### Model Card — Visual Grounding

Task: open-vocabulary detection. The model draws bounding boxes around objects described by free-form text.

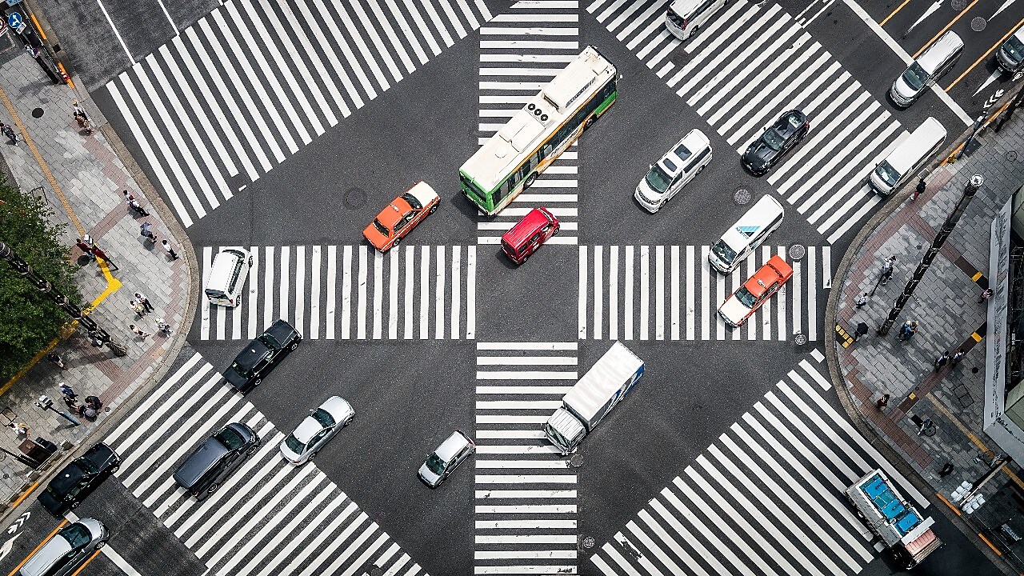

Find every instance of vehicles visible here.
[667,0,732,39]
[635,130,711,213]
[38,442,123,518]
[741,109,810,177]
[222,318,302,395]
[708,195,783,277]
[537,339,644,458]
[994,21,1024,73]
[25,517,109,576]
[890,31,964,111]
[281,396,356,467]
[842,464,952,573]
[868,118,946,199]
[461,44,629,215]
[363,179,442,253]
[415,428,477,491]
[717,254,795,330]
[503,205,563,263]
[207,245,255,308]
[176,421,260,496]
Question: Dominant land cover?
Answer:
paved ground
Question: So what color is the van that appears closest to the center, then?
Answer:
red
